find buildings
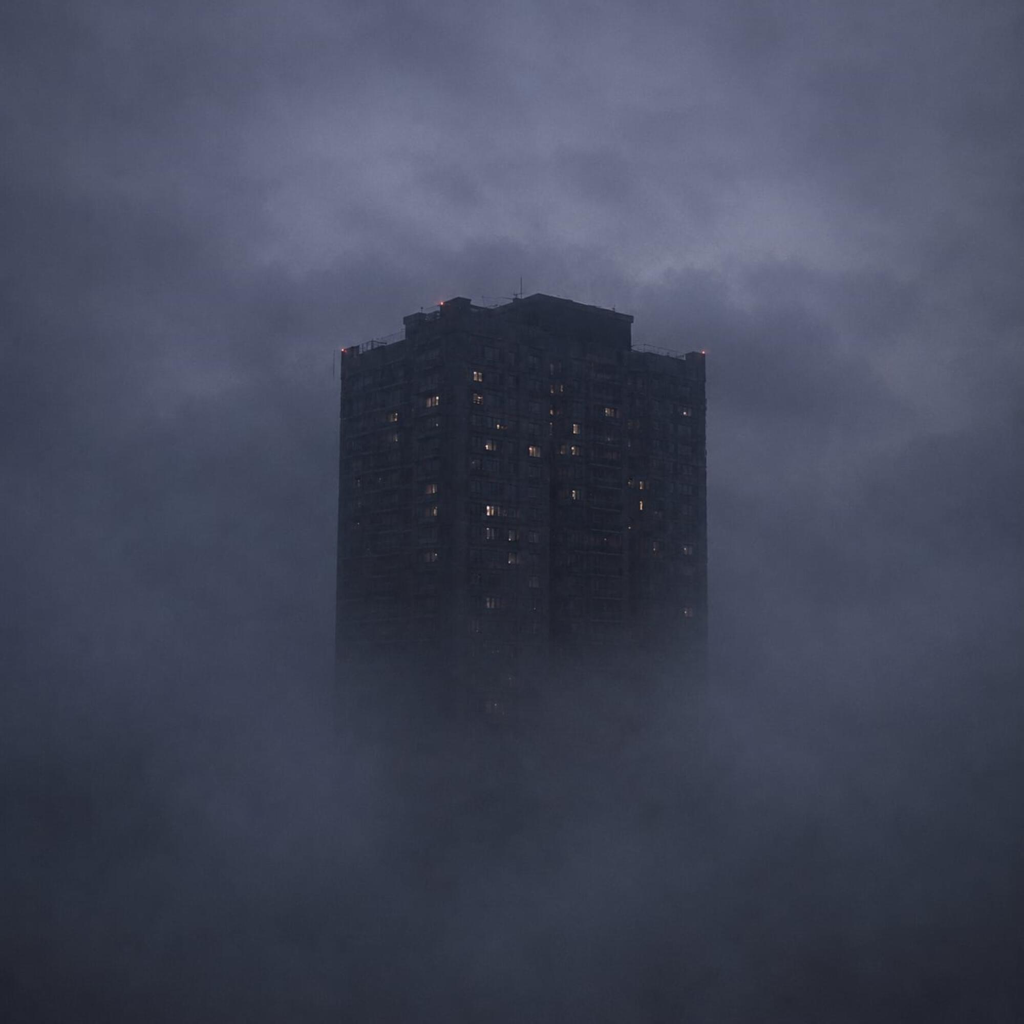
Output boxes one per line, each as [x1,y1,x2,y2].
[331,293,712,1014]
